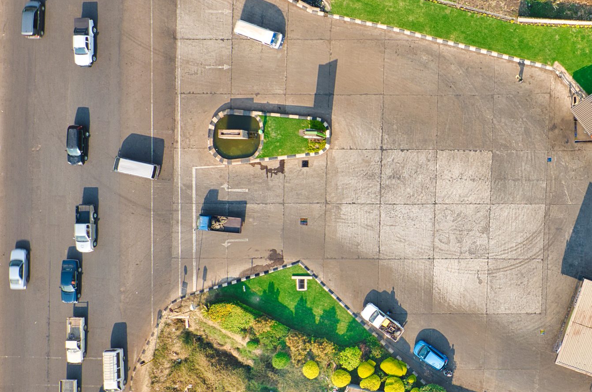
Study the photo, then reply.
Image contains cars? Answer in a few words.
Yes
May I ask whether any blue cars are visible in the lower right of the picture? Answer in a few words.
Yes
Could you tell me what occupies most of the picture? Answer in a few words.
paved ground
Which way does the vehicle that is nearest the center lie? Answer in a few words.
from side to side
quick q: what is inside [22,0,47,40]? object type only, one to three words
car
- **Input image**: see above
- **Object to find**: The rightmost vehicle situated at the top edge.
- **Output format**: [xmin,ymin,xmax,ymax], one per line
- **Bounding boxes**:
[233,19,284,48]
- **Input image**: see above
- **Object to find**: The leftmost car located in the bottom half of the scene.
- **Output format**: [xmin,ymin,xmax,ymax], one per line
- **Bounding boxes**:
[9,249,33,291]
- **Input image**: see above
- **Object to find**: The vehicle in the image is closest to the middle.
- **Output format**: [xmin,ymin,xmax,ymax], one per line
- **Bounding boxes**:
[197,210,246,231]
